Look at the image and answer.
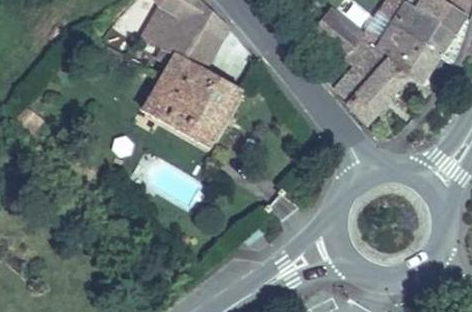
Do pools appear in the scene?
Yes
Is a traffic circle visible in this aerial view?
Yes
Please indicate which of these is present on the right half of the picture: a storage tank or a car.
car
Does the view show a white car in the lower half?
Yes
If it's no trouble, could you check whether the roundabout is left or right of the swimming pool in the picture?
on the right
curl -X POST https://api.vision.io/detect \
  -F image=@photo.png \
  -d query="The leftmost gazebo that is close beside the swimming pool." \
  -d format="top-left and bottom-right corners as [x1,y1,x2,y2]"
[112,135,135,159]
